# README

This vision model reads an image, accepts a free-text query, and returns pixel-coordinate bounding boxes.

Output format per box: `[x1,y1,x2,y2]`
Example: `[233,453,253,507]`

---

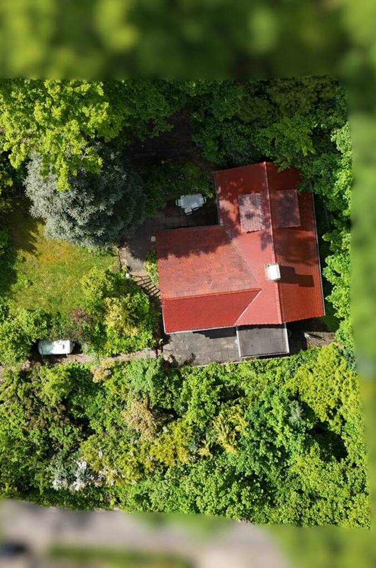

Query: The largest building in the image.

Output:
[154,161,326,334]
